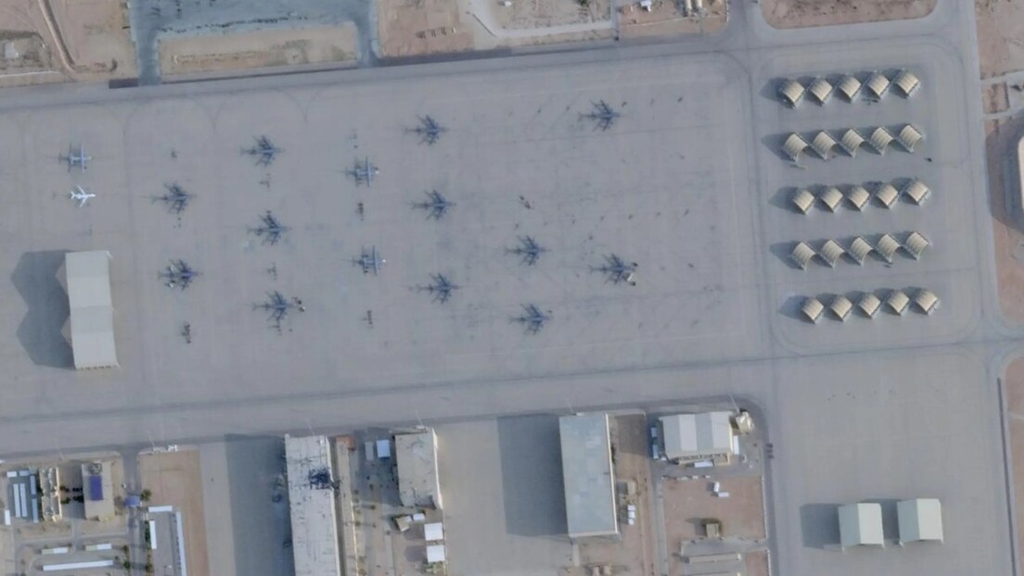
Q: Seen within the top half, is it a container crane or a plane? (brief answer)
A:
plane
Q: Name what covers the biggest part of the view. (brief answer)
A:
paved ground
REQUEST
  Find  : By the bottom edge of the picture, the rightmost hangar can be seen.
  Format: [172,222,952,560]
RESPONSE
[897,500,945,549]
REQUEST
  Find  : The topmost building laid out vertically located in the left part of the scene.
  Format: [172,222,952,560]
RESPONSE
[66,251,123,373]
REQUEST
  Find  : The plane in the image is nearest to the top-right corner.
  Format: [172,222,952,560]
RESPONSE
[586,100,621,131]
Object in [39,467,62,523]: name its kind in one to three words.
building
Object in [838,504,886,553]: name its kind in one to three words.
hangar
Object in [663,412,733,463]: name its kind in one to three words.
building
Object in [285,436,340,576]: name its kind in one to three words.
hangar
